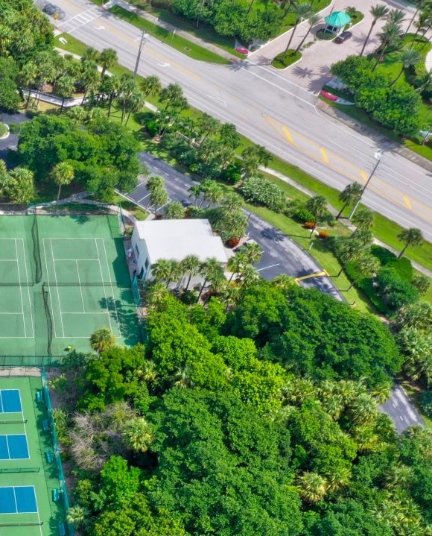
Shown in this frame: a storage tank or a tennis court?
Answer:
tennis court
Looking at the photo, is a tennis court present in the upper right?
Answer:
No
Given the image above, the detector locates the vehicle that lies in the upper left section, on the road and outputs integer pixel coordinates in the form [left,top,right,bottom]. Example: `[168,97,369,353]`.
[47,1,66,16]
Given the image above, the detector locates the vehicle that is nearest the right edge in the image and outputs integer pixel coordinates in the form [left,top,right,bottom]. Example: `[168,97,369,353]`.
[333,28,352,41]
